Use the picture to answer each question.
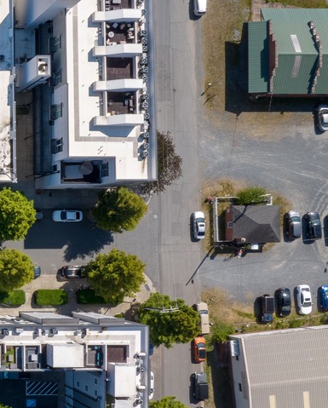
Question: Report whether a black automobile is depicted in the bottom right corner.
Yes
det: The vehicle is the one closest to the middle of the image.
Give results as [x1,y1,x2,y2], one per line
[191,211,207,241]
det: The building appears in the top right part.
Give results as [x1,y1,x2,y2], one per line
[236,9,328,98]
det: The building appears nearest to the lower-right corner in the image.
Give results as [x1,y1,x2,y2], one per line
[233,324,328,408]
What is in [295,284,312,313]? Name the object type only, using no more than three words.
car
